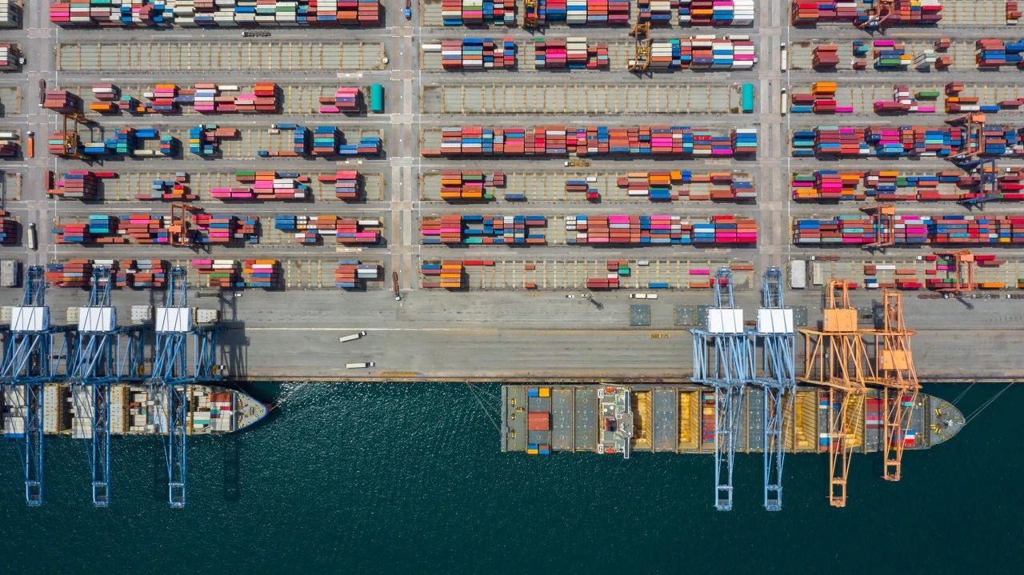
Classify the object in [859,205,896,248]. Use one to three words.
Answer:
container crane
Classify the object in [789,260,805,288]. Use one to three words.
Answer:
shed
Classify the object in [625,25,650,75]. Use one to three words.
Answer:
container crane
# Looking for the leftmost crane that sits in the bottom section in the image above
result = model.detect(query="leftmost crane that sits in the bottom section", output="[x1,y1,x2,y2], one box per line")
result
[0,265,107,506]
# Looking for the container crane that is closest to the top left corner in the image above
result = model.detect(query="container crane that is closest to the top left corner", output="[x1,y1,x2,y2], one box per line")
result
[62,114,99,161]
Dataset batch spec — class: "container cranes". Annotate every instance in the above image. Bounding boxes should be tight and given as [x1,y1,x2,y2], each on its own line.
[517,0,542,32]
[678,266,748,510]
[0,265,107,506]
[167,205,203,248]
[625,25,650,75]
[935,250,976,293]
[848,289,921,481]
[858,0,893,32]
[859,205,896,248]
[62,114,99,161]
[65,265,166,506]
[946,114,988,161]
[790,278,867,507]
[958,160,995,205]
[733,266,799,510]
[145,265,236,506]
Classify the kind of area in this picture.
port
